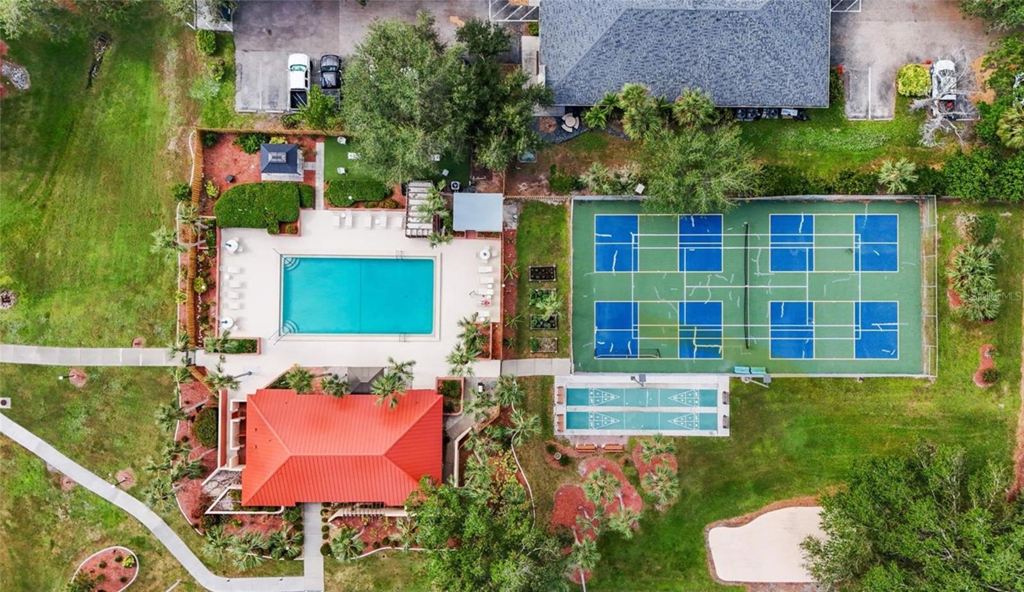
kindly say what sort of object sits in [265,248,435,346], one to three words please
swimming pool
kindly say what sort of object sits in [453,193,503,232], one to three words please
shed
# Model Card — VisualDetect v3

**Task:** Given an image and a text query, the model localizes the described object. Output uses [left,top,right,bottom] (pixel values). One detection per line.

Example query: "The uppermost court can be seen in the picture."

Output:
[572,200,924,375]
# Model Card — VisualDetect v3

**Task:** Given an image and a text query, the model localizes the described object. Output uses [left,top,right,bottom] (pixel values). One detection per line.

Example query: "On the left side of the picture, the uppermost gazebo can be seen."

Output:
[260,144,300,173]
